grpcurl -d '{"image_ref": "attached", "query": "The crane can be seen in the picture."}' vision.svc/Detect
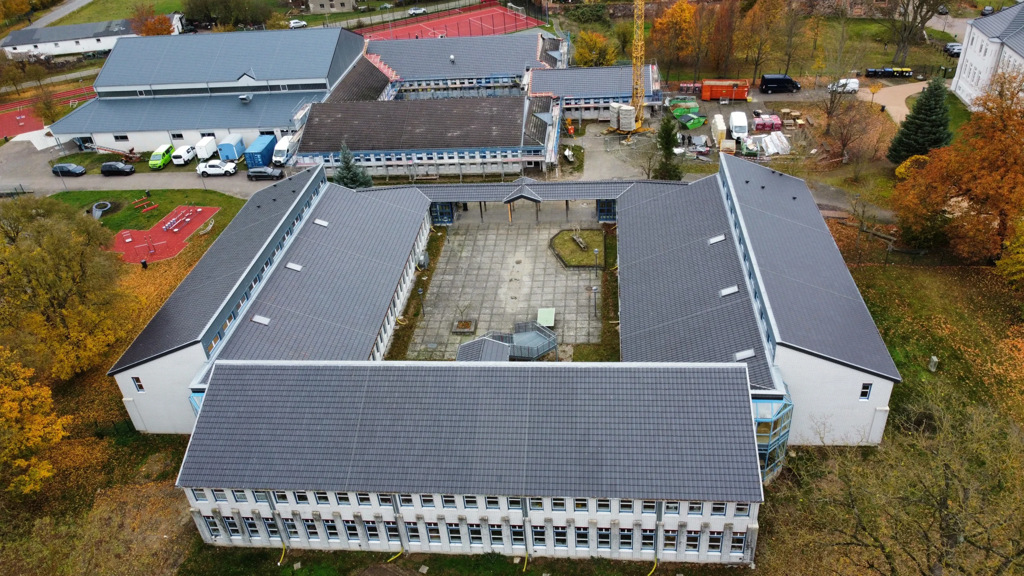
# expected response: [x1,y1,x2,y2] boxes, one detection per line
[608,0,668,141]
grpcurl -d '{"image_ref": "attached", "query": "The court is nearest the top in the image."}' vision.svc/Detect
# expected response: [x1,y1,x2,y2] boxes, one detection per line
[362,5,547,44]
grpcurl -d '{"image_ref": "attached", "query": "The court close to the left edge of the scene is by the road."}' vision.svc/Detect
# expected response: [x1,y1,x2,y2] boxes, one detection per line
[0,106,43,140]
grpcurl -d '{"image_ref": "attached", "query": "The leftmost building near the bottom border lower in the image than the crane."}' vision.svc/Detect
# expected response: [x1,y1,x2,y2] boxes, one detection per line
[174,359,767,568]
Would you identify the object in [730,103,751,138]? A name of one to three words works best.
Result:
vehicle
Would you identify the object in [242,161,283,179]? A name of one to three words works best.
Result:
car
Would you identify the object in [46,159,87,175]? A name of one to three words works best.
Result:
car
